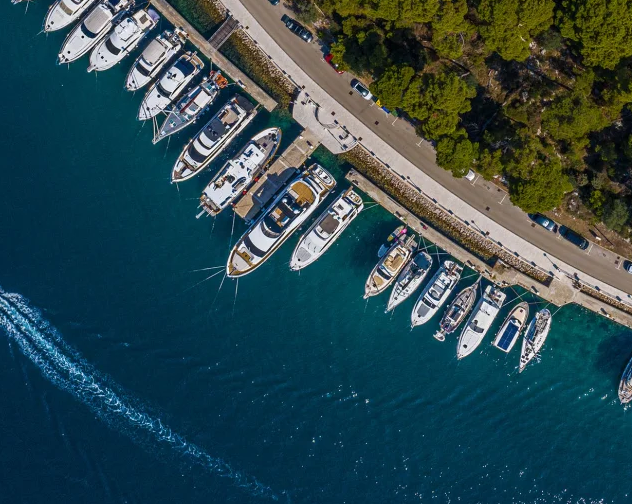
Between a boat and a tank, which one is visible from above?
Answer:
boat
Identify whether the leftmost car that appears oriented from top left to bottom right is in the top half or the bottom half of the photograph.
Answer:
top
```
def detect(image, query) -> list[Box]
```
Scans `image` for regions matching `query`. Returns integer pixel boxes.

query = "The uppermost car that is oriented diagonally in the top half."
[284,16,311,42]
